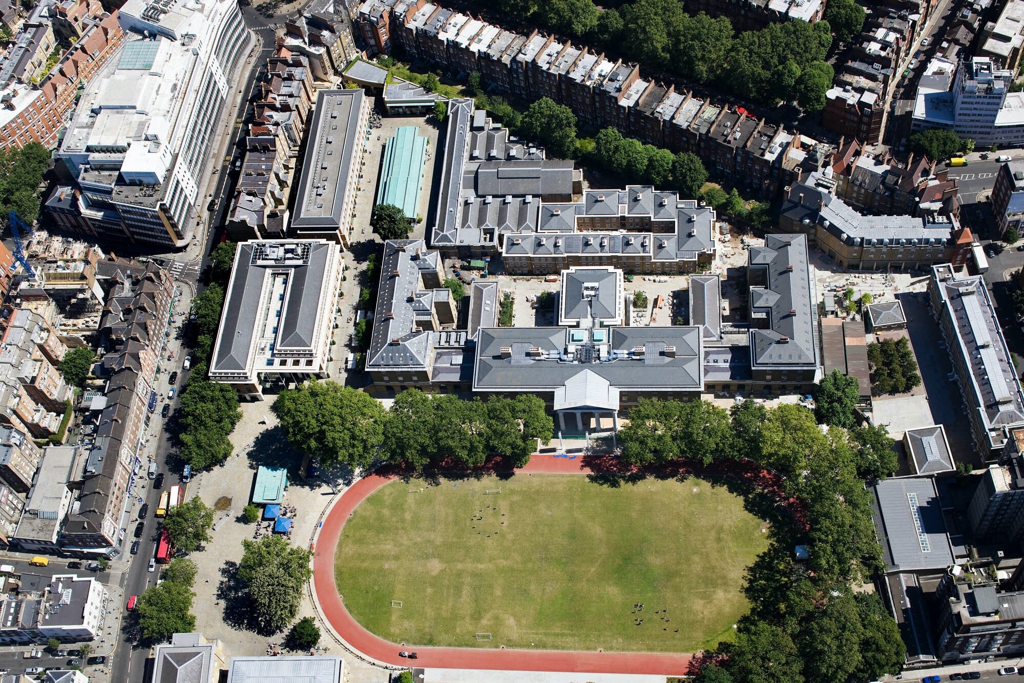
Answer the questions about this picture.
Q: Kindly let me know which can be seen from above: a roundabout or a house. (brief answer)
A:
house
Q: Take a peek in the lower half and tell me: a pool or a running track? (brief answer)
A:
running track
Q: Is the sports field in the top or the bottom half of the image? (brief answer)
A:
bottom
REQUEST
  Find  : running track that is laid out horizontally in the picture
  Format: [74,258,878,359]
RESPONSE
[311,453,829,677]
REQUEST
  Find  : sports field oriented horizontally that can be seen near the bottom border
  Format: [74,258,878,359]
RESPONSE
[334,473,808,653]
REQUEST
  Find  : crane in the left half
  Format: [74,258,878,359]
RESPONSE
[8,211,52,280]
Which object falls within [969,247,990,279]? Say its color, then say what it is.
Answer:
white truck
